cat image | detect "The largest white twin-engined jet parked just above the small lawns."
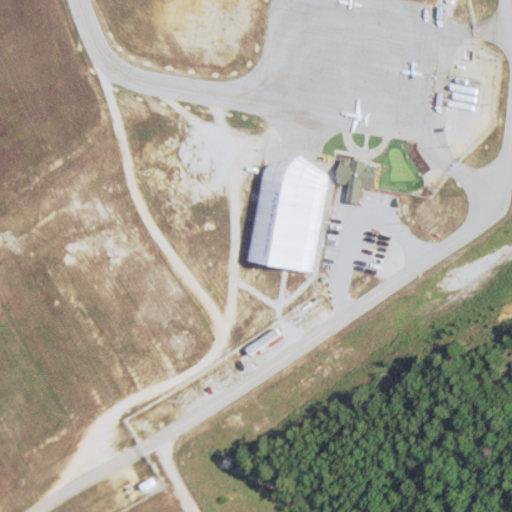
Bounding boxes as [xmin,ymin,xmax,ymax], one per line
[341,99,372,133]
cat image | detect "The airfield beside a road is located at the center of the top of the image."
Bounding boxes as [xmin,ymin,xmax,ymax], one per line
[70,0,509,275]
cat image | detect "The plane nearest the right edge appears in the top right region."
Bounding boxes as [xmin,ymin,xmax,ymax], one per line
[402,62,422,78]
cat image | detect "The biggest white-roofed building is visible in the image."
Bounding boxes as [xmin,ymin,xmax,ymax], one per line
[248,156,329,273]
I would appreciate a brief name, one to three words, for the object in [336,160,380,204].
building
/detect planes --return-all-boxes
[341,99,372,133]
[402,62,422,78]
[338,0,361,9]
